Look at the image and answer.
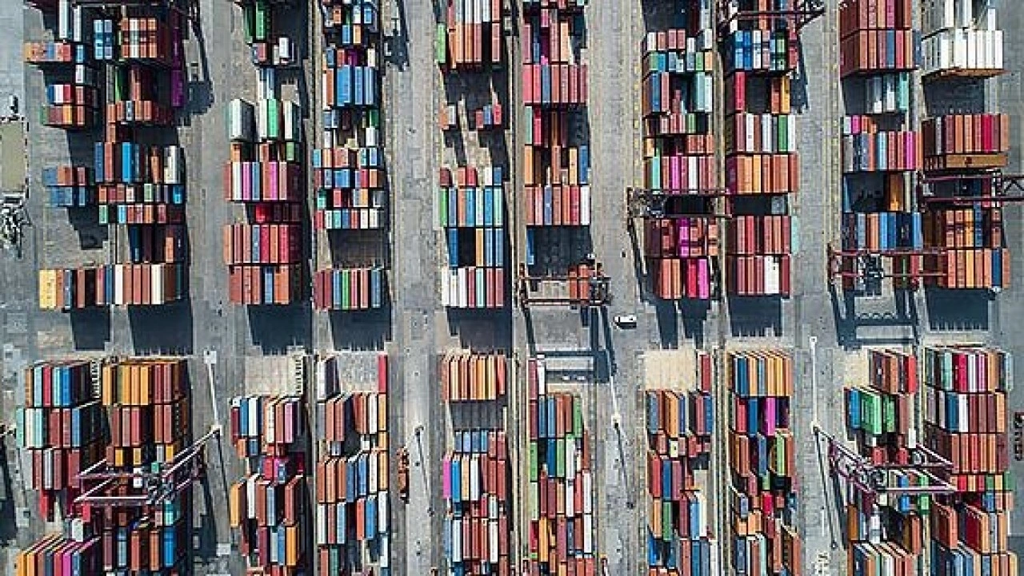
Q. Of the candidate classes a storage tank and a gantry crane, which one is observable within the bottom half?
gantry crane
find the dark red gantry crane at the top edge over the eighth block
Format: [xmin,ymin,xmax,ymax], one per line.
[716,0,829,40]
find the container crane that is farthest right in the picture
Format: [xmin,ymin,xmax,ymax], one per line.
[917,174,1024,210]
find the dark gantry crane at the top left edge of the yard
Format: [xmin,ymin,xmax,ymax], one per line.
[69,0,199,32]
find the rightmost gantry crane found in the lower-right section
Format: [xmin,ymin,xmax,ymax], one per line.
[827,438,957,496]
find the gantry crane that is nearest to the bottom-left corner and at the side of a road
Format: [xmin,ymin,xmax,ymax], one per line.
[70,446,201,508]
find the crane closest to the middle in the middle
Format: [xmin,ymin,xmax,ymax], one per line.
[518,267,614,310]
